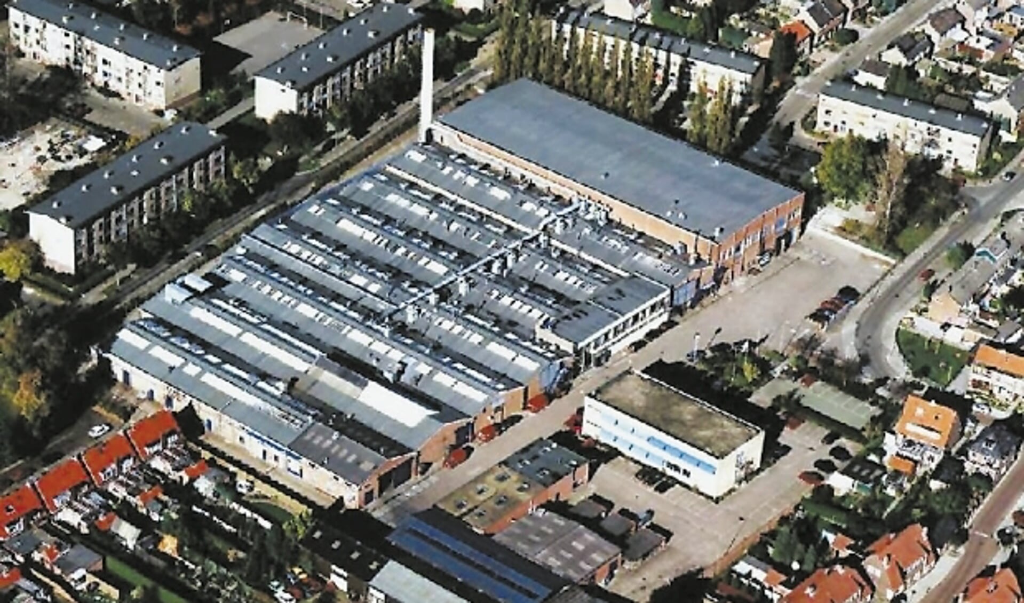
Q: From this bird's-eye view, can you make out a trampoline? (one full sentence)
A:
No, the frame has no trampoline in it.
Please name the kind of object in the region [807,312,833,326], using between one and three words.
car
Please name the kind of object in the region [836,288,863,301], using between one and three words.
vehicle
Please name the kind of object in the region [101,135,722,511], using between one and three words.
building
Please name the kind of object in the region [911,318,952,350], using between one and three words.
shed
